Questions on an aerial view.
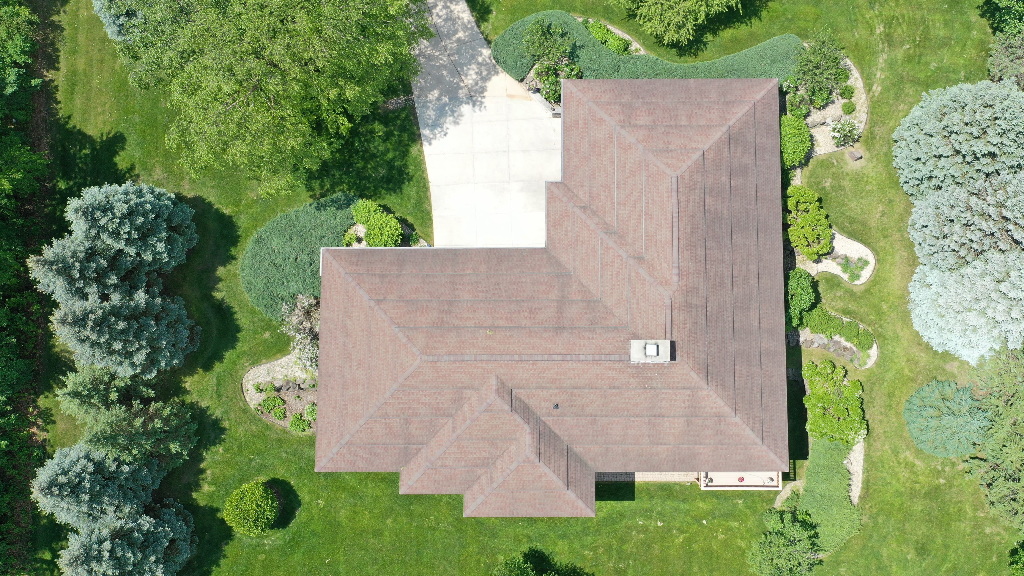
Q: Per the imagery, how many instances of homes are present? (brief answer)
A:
1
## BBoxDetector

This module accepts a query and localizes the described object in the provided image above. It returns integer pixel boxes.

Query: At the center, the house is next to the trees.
[315,77,790,518]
